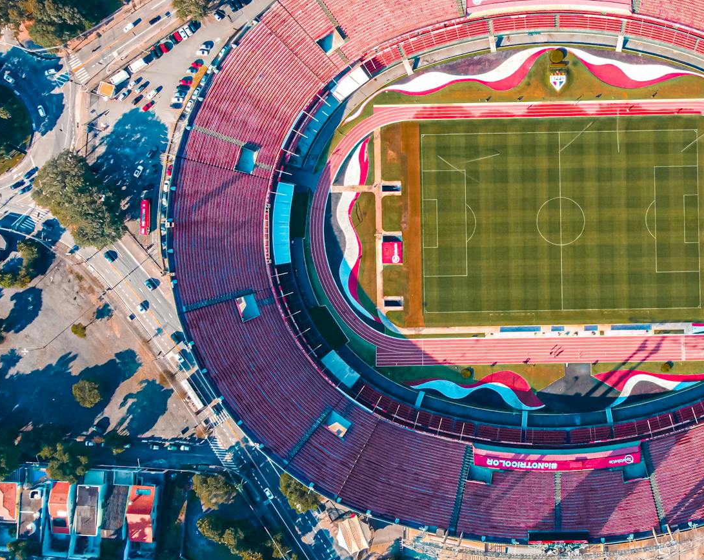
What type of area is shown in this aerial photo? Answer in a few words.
sports ground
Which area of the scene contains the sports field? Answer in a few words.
right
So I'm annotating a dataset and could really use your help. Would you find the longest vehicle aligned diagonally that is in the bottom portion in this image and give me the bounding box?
[179,379,205,407]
